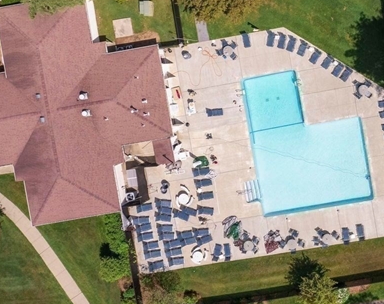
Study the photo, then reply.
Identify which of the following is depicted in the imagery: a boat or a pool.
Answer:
pool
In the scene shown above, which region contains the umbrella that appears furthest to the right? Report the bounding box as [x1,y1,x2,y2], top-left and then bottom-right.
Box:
[265,235,278,254]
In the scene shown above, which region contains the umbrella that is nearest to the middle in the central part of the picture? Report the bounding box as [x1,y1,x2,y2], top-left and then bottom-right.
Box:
[193,157,209,169]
